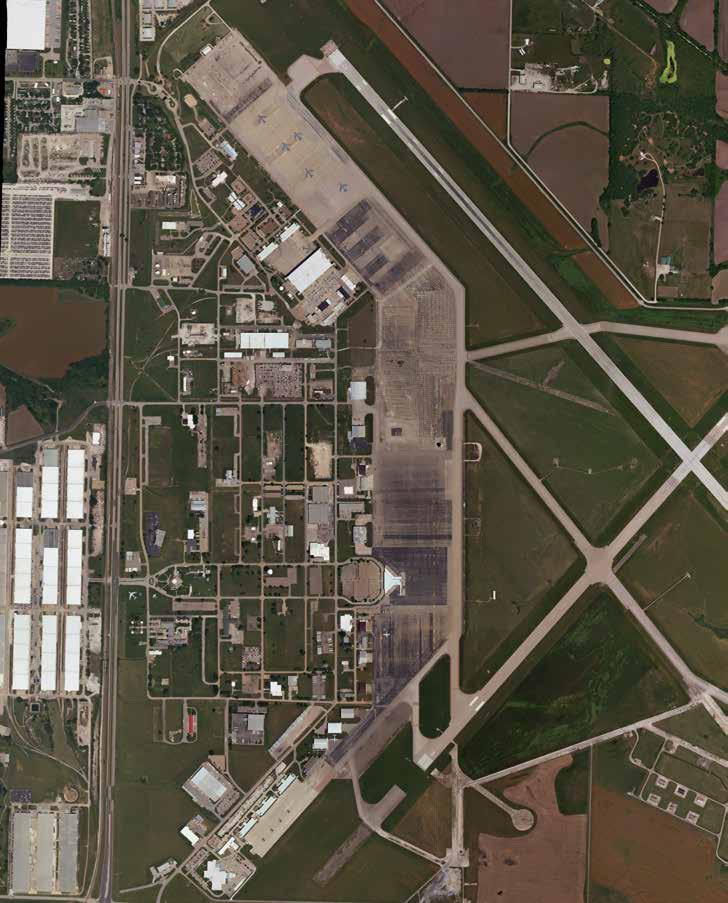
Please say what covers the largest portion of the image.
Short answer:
grass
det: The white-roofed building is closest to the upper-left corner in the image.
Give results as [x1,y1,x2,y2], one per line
[6,0,45,49]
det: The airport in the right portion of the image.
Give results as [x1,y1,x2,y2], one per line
[183,29,728,887]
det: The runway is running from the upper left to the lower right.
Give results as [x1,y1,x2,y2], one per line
[329,47,728,512]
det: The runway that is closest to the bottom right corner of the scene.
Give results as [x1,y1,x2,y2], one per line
[420,417,728,767]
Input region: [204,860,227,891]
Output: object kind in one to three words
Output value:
building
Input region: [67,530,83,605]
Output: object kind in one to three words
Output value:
building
